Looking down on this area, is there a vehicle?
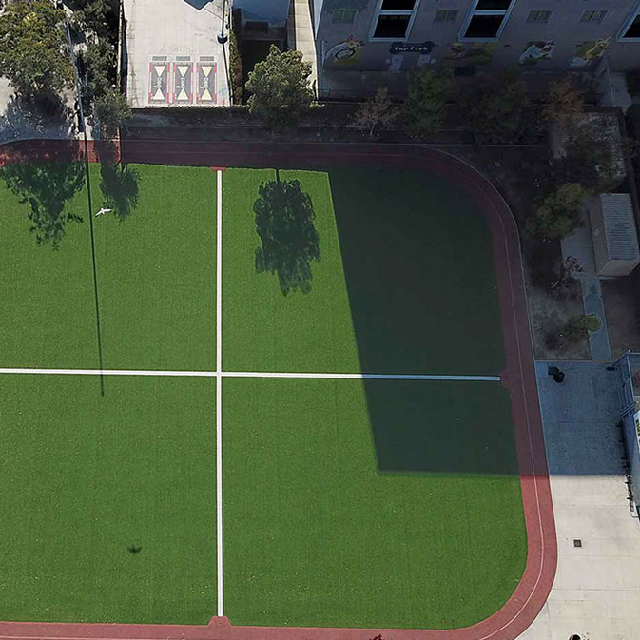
No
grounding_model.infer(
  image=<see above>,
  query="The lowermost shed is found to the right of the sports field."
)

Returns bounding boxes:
[591,191,640,274]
